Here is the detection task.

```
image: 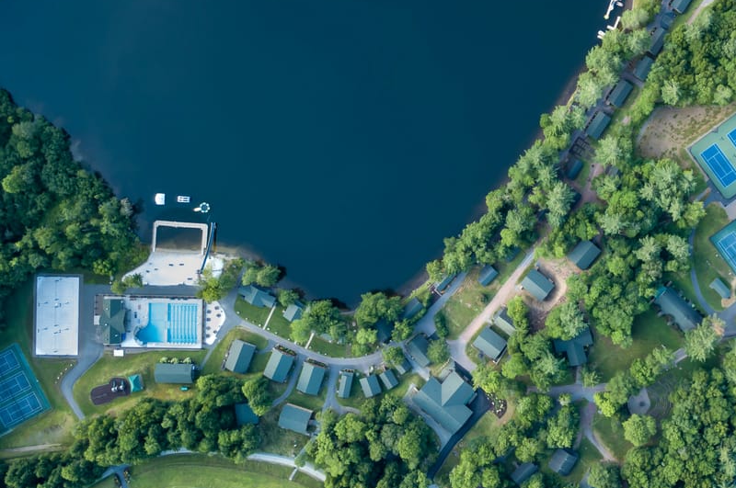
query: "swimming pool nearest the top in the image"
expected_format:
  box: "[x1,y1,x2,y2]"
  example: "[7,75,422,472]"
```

[102,296,203,349]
